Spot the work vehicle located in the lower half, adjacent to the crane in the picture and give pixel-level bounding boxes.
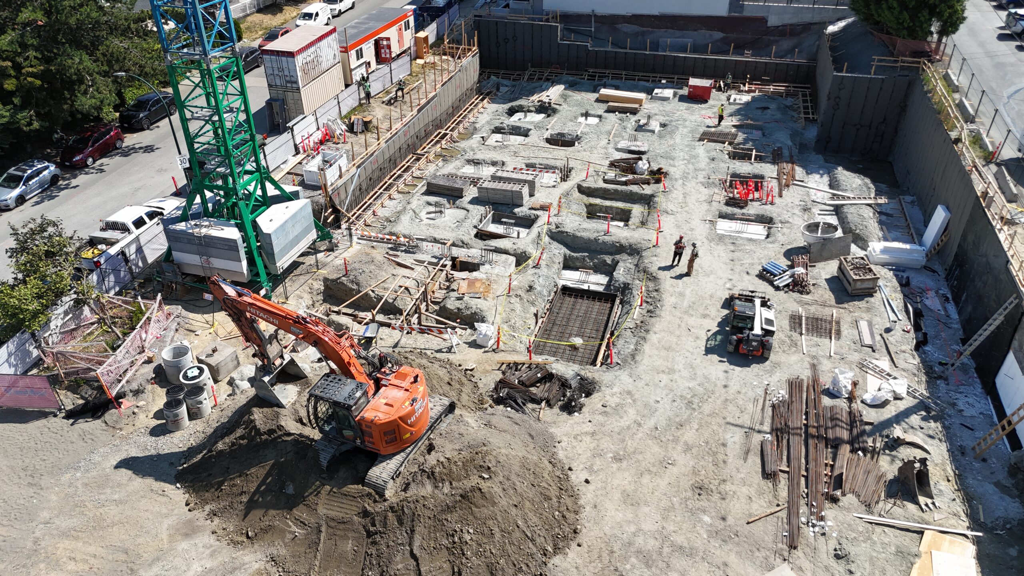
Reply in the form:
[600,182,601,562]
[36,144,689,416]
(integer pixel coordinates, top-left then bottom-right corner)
[205,275,461,499]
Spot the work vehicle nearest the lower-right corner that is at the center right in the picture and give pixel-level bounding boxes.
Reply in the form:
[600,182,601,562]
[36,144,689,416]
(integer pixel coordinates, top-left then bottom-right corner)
[720,283,783,358]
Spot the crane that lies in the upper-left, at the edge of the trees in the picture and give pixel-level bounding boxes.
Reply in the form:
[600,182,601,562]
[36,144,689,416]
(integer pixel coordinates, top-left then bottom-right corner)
[143,0,340,302]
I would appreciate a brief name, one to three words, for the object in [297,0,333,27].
vehicle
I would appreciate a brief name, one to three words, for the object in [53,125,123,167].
car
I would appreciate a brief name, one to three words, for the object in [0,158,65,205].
car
